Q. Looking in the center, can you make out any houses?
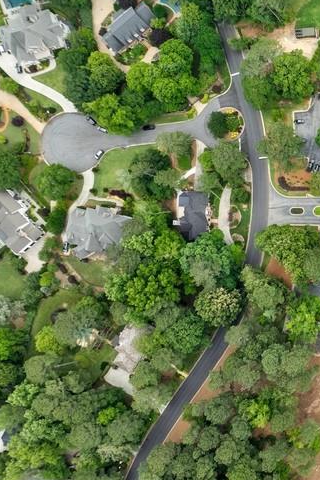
Yes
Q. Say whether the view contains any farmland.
No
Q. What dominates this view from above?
trees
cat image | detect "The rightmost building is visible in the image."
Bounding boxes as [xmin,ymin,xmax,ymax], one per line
[169,192,213,240]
